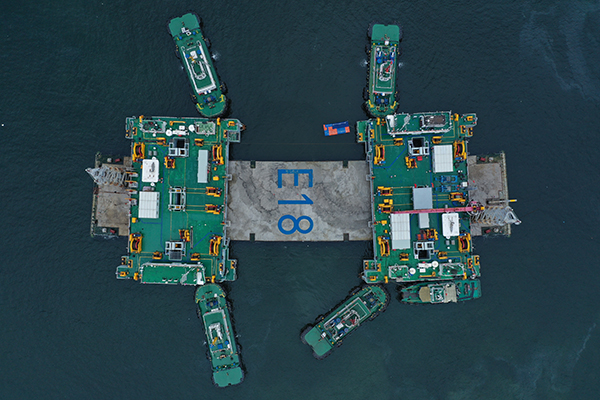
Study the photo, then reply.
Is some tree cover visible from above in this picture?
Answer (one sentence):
No, the scene doesn't show any tree cover.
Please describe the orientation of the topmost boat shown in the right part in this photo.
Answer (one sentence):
The topmost boat shown in the right part has been laid out from top to bottom relative to the frame.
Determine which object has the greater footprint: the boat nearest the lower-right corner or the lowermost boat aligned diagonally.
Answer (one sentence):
Compared with the boat nearest the lower-right corner, the lowermost boat aligned diagonally is the bigger one.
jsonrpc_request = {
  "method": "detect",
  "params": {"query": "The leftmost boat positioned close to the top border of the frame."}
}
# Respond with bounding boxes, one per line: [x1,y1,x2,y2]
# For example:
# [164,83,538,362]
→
[166,11,231,118]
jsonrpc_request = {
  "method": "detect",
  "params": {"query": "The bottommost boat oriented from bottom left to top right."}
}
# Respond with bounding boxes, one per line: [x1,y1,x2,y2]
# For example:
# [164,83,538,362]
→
[298,281,391,361]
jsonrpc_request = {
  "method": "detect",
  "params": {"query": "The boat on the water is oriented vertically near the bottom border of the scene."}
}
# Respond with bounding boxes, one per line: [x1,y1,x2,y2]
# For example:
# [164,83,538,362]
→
[195,282,248,392]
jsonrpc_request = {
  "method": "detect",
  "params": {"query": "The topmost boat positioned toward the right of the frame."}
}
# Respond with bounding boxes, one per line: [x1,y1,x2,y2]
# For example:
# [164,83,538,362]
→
[363,20,404,118]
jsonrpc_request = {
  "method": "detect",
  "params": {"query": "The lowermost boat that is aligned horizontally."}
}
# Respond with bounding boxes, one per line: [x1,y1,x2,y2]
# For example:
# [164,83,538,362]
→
[400,279,482,305]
